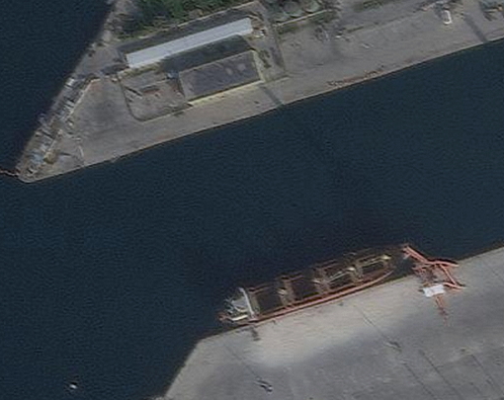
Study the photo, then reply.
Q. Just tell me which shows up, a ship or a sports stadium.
ship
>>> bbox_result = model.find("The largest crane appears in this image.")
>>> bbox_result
[400,243,468,321]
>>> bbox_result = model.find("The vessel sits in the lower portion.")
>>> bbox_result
[218,250,399,325]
